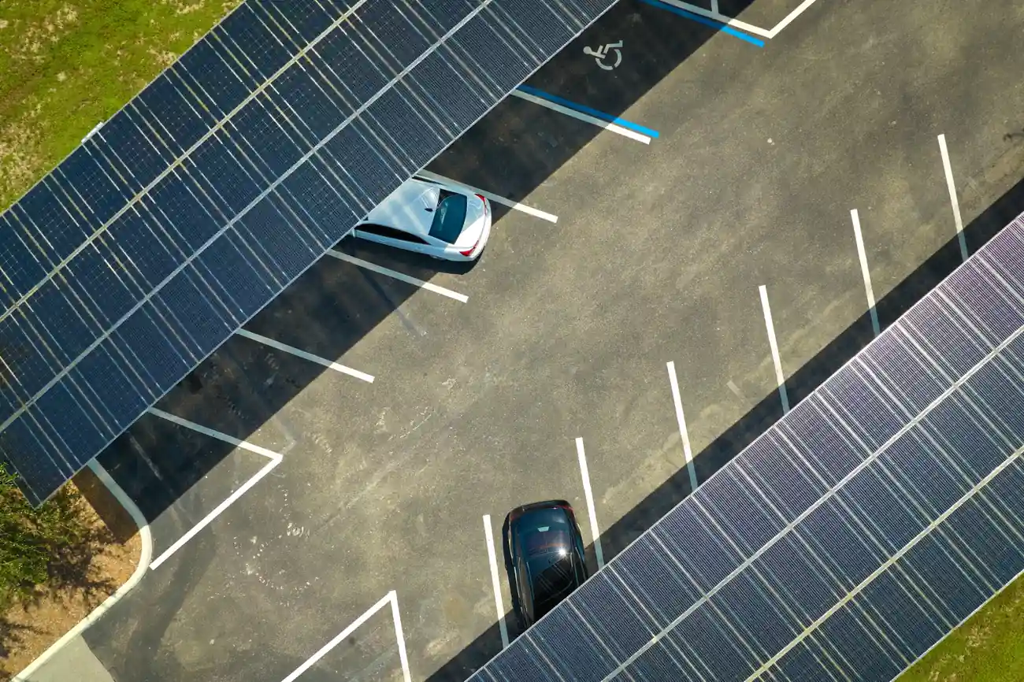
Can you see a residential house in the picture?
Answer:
No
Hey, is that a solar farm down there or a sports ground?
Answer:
solar farm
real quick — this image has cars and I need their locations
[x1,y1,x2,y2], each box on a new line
[506,496,599,682]
[310,145,492,259]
